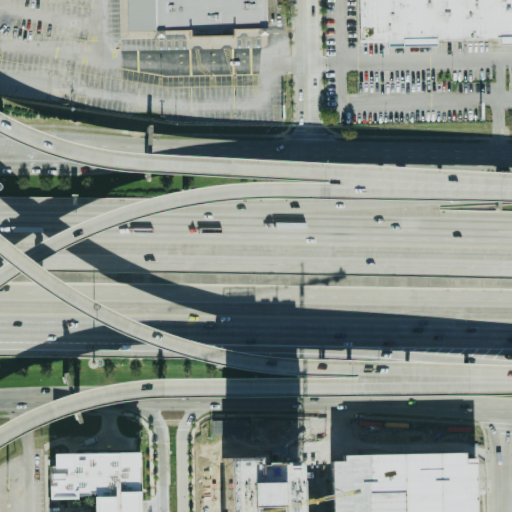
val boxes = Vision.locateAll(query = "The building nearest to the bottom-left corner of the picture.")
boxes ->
[48,453,142,512]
